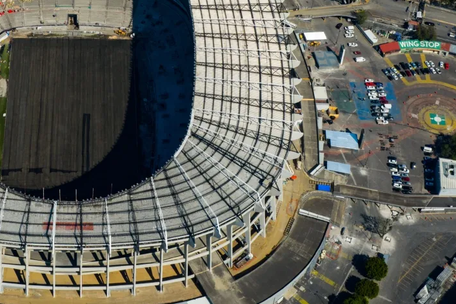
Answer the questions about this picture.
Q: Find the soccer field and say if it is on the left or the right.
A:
left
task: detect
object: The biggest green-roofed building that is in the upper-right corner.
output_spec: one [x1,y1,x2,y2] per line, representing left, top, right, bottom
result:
[397,39,441,56]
